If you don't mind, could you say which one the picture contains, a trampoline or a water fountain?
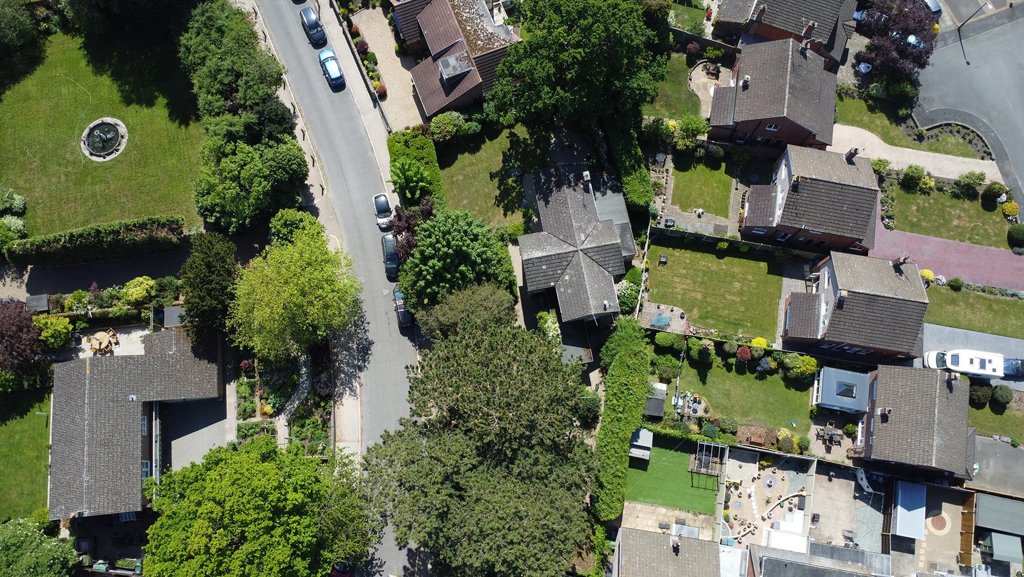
water fountain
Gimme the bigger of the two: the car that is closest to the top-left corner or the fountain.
the fountain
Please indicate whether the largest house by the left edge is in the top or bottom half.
bottom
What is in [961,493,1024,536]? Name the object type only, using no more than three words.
shed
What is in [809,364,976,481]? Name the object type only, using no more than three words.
house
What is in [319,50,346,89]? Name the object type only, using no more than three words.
car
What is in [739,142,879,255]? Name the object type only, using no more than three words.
house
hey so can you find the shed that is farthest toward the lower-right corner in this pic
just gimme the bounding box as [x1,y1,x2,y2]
[973,531,1022,564]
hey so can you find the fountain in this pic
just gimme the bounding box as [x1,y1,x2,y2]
[80,118,128,160]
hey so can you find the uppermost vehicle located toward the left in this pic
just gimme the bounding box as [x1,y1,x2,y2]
[300,8,328,48]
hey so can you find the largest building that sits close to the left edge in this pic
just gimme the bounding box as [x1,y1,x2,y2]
[47,327,226,520]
